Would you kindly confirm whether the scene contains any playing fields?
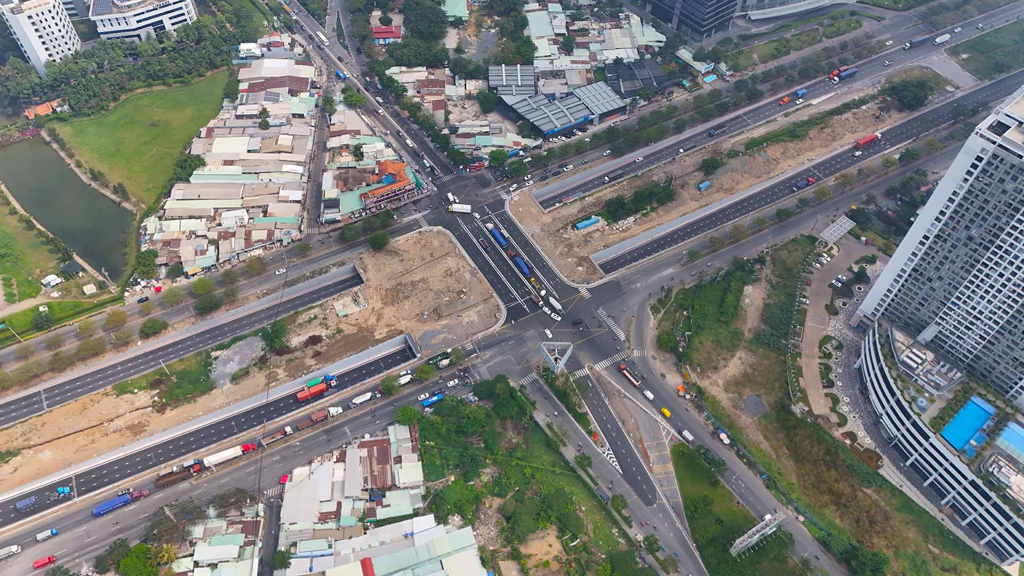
Yes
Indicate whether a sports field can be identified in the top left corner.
Yes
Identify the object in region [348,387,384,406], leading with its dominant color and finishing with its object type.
white vehicle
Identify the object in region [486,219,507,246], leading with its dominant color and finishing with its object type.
blue truck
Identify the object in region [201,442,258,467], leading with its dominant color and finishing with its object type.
white truck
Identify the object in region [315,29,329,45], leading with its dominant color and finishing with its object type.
white vehicle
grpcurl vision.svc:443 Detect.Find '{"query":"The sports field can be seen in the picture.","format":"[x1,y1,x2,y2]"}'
[51,70,230,205]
